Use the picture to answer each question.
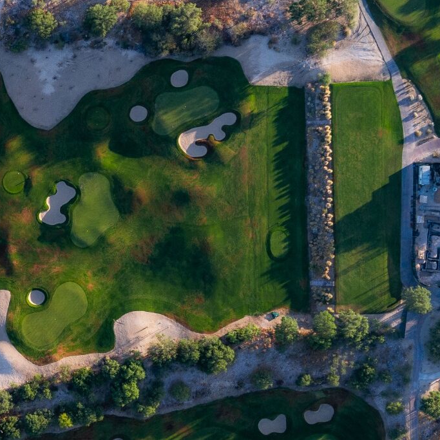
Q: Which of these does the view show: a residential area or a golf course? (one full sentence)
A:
It's a golf course.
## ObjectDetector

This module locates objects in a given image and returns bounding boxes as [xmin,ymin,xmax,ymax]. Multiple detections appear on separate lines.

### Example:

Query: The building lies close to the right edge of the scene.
[419,164,434,184]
